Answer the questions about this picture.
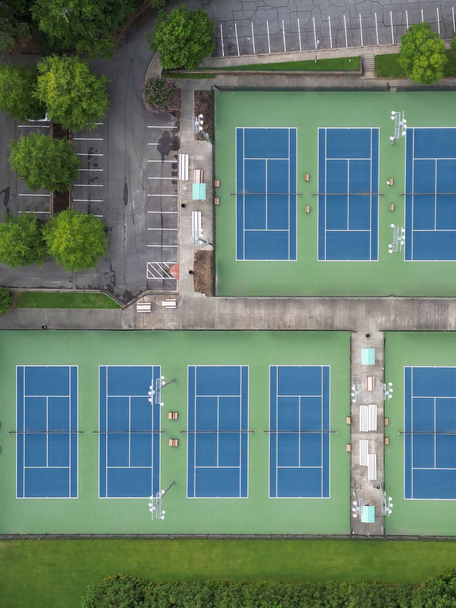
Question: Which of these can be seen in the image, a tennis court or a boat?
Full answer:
There is a tennis court in the scene.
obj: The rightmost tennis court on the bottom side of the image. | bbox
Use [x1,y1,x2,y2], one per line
[397,366,456,500]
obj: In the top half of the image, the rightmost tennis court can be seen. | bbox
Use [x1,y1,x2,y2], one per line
[399,127,456,261]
